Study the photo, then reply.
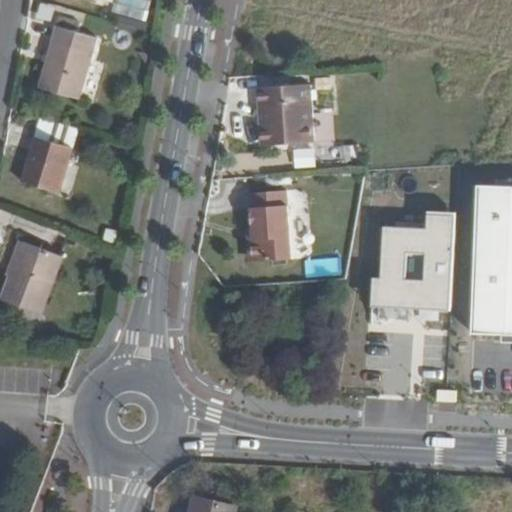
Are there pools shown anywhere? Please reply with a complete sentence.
Yes, there is a pool in the image.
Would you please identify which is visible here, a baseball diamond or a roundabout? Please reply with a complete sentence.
I can see a roundabout in this picture.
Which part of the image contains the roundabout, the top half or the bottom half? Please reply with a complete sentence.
Seen from above, the roundabout lies in the bottom half of the view.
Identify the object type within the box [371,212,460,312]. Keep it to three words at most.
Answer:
building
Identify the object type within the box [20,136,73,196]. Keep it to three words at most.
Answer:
house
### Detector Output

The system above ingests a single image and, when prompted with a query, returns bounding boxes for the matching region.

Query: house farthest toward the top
[38,26,96,99]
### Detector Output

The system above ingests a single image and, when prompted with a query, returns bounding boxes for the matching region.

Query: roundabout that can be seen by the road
[74,339,209,486]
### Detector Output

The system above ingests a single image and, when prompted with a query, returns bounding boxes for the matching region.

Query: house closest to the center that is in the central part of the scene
[248,190,292,262]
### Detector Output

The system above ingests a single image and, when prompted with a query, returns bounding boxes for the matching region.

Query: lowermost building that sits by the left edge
[0,240,64,310]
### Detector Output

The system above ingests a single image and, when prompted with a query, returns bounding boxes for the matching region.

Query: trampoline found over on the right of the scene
[400,177,417,193]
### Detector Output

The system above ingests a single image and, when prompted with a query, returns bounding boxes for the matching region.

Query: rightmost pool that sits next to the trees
[304,252,343,278]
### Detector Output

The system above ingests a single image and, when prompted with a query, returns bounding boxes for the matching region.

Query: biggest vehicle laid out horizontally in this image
[426,436,459,448]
